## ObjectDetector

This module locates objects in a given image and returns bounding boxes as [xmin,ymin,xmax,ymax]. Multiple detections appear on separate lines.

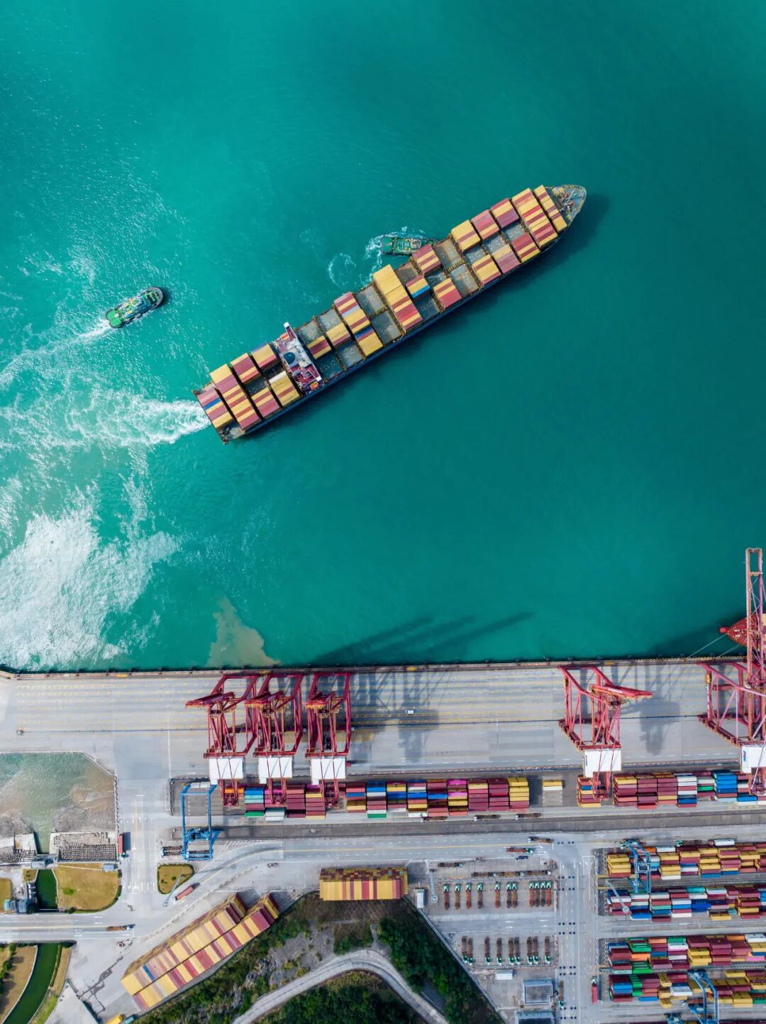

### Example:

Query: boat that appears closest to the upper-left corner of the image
[103,285,162,328]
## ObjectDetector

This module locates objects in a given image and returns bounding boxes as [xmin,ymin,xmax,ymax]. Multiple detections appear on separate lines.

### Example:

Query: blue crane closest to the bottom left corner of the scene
[179,784,220,860]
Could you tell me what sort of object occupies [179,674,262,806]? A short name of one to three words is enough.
container crane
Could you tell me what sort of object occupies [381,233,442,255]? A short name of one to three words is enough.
boat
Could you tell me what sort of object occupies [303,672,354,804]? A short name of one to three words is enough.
container crane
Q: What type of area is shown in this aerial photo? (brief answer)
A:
port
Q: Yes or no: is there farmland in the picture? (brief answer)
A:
No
